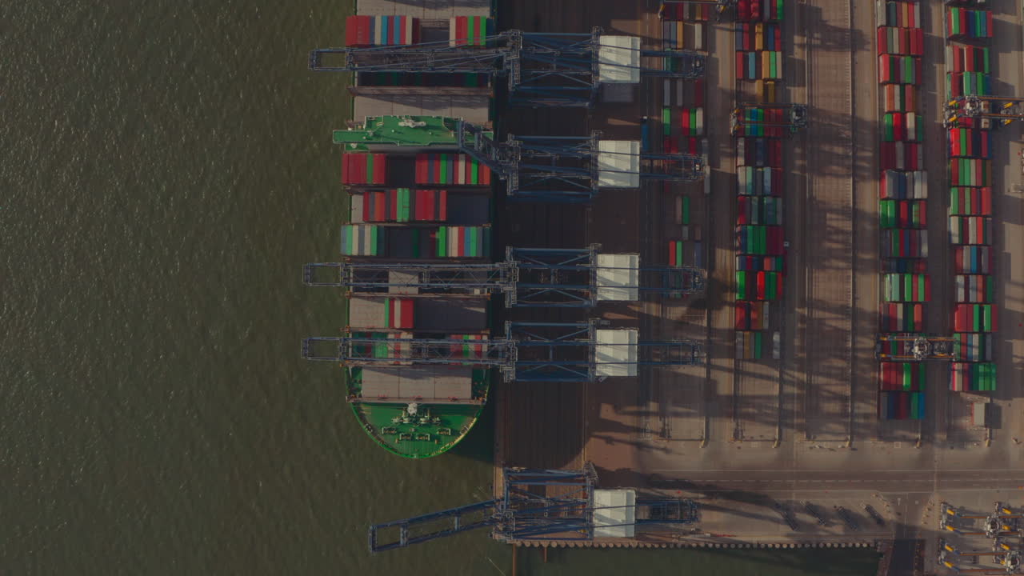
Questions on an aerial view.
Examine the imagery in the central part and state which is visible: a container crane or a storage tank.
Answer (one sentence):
Visible in the central part is a container crane.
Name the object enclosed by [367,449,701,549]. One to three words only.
container crane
